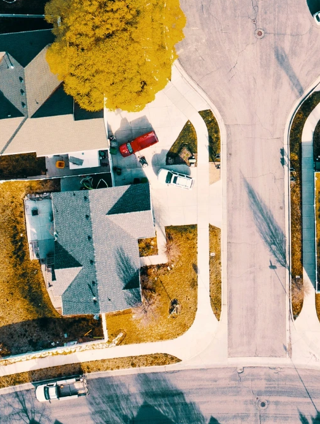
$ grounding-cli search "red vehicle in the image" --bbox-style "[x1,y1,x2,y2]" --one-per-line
[119,129,160,158]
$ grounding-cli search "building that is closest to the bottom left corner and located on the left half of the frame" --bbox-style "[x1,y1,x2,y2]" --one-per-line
[47,182,156,315]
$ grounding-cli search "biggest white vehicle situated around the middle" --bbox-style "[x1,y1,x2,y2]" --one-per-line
[155,168,196,191]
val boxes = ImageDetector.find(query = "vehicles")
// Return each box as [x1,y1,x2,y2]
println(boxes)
[313,11,320,26]
[119,129,160,158]
[137,155,149,168]
[36,380,87,403]
[155,168,196,191]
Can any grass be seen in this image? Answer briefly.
Yes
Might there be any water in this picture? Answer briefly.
No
